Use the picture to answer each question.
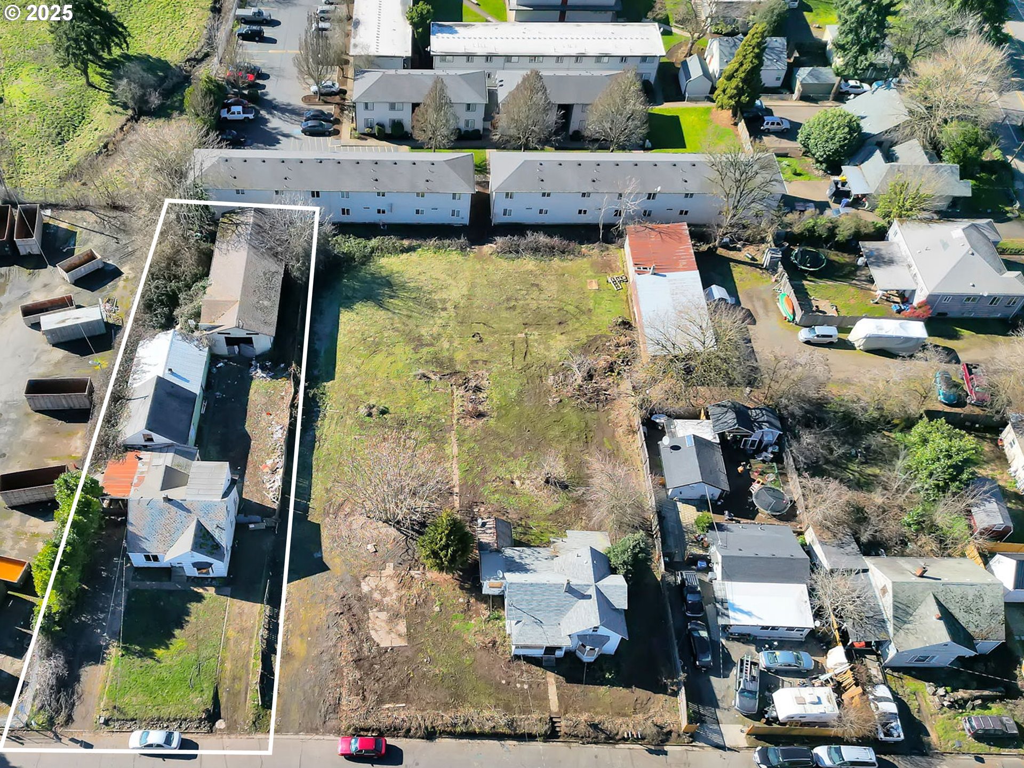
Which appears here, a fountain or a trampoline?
trampoline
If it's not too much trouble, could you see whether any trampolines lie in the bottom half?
Yes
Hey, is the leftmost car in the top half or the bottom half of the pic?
bottom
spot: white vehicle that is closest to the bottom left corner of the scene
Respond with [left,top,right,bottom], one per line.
[126,731,182,757]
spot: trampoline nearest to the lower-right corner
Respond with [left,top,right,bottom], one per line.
[756,490,793,520]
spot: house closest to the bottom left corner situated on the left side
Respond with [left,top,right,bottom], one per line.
[107,449,253,585]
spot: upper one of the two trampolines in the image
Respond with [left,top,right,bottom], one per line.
[793,243,831,276]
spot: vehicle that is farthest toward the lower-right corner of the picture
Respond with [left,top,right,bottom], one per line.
[961,719,1024,746]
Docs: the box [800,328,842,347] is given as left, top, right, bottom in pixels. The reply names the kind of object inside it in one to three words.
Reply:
car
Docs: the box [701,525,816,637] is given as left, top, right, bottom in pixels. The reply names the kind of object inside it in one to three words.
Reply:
house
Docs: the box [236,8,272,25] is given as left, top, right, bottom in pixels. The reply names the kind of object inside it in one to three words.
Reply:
vehicle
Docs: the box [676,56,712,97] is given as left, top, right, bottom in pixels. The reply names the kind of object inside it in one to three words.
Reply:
shed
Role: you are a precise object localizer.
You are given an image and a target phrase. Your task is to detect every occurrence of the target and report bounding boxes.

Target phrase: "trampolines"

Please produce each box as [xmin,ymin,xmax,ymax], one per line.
[793,243,831,276]
[756,490,793,520]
